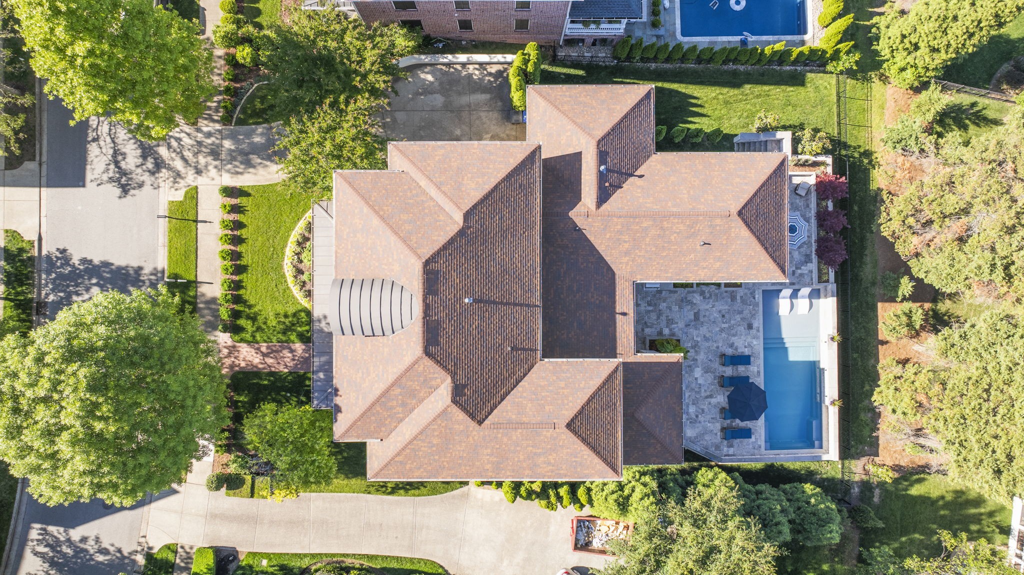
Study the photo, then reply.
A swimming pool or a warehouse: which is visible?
swimming pool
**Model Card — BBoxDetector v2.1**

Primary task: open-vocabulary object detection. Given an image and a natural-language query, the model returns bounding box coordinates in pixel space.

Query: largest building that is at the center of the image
[312,83,791,484]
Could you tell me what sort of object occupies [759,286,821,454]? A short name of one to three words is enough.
swimming pool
